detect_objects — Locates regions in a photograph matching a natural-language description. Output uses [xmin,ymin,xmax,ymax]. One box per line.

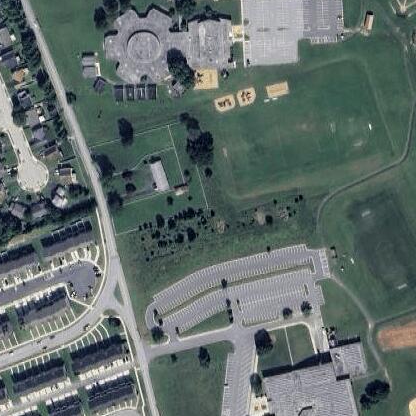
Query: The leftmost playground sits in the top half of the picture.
[194,67,218,89]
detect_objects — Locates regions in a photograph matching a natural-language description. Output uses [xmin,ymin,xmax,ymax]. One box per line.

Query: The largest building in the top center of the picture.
[104,9,231,83]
